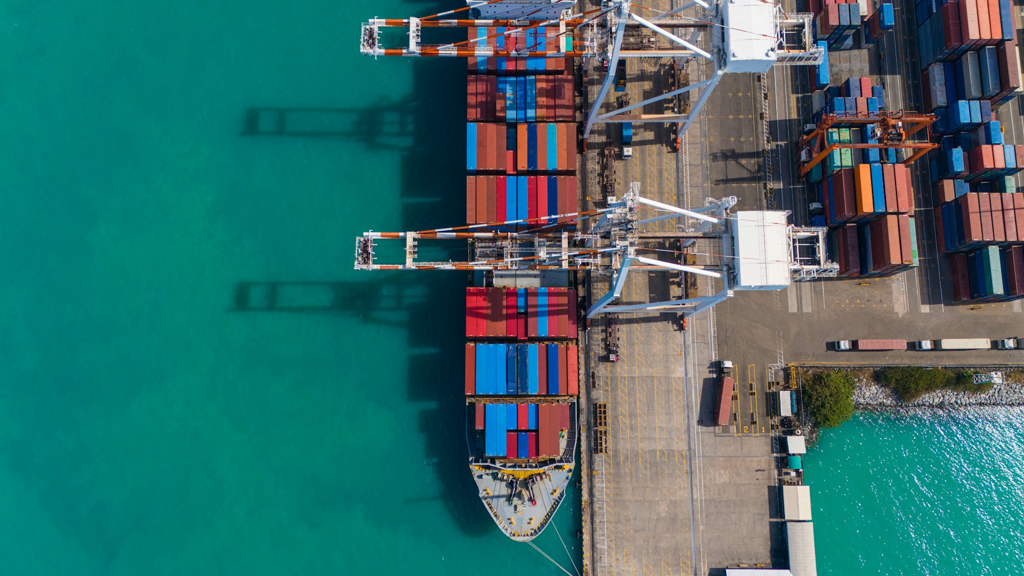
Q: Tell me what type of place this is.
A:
port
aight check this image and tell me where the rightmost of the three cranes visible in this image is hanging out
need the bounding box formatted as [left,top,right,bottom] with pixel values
[798,108,943,180]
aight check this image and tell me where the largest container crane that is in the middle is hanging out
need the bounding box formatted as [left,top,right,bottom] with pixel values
[356,180,843,330]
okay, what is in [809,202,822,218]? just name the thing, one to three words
vehicle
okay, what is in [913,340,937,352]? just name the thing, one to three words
vehicle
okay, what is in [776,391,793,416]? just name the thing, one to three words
shed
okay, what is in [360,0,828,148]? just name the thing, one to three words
container crane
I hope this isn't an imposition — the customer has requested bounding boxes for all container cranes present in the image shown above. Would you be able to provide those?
[356,180,843,330]
[798,108,943,180]
[360,0,828,148]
